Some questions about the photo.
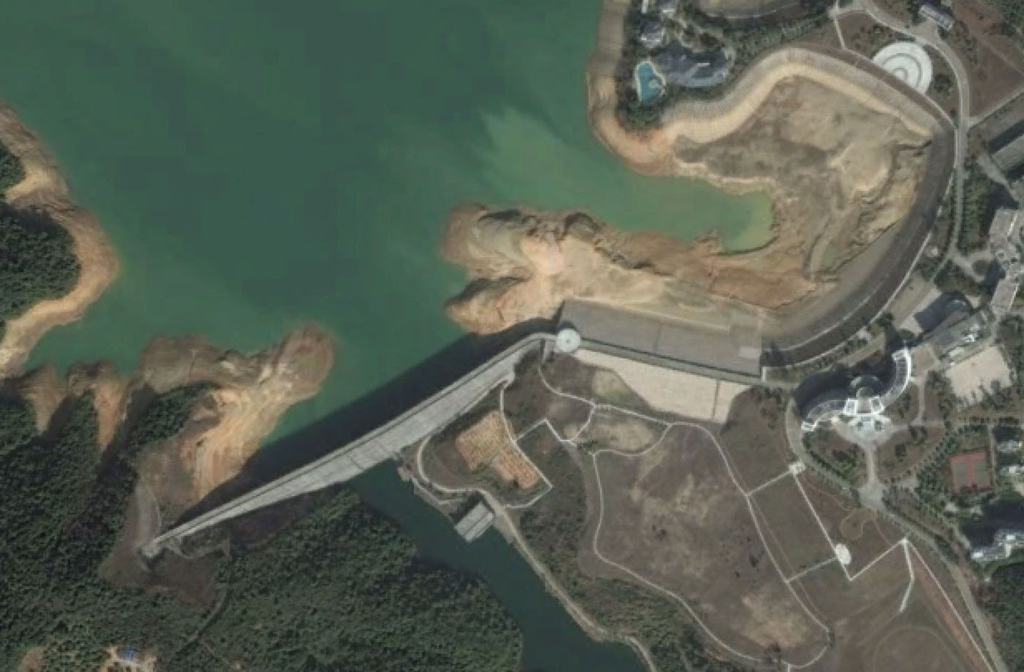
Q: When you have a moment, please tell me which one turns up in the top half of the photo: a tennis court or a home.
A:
home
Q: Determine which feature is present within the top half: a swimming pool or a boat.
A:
swimming pool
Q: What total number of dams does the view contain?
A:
two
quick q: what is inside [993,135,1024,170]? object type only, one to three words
building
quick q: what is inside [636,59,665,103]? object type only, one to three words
swimming pool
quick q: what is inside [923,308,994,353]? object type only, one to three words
building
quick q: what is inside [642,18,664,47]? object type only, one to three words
house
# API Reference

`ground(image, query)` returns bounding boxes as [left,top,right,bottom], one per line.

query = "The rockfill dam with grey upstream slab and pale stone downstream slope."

[566,297,765,423]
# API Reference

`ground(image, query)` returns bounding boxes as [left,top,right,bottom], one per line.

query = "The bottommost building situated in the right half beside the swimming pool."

[654,42,729,89]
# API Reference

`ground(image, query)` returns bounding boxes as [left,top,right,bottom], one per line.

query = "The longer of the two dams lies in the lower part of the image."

[151,333,557,548]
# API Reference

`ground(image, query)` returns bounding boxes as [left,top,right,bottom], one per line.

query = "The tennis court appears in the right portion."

[949,452,991,491]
